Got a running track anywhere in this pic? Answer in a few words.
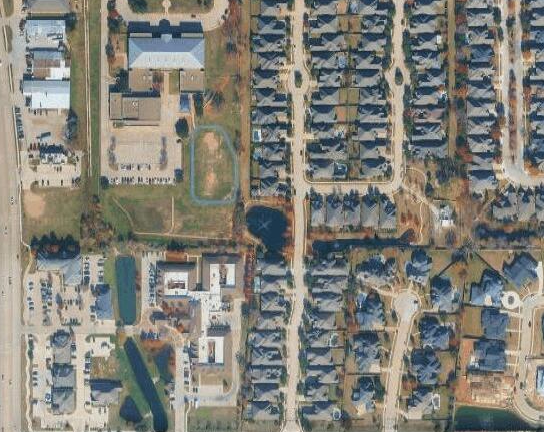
Yes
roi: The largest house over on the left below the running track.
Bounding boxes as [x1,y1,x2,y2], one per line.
[155,253,243,371]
